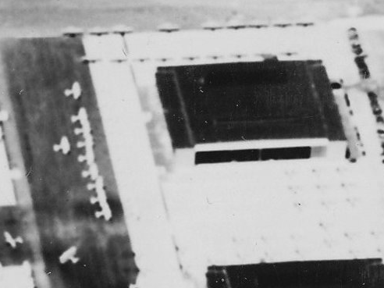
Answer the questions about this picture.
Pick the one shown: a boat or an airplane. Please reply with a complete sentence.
I can see an airplane in this picture.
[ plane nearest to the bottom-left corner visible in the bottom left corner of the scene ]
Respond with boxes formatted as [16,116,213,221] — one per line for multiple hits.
[4,233,23,249]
